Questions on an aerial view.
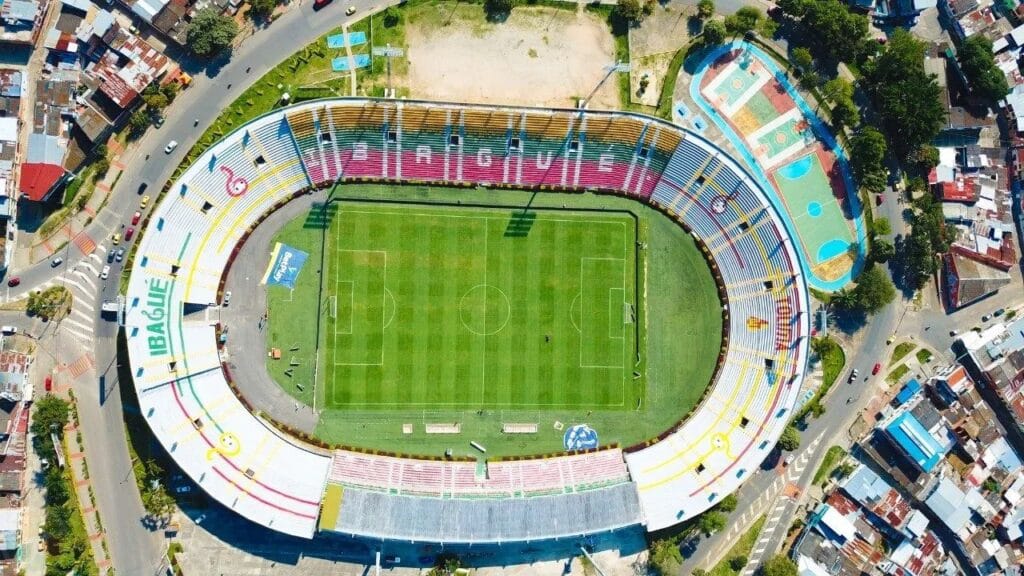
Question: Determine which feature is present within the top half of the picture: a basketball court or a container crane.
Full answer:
Looking within the top half of the picture, you will find a basketball court.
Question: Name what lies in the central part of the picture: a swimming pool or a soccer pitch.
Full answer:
Visible in the central part of the picture is a soccer pitch.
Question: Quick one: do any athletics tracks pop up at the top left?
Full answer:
No, no athletics track can be made out at the top left.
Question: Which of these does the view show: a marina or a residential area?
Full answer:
What you see here is a residential area.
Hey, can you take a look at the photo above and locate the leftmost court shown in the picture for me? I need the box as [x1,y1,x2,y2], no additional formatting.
[704,56,770,116]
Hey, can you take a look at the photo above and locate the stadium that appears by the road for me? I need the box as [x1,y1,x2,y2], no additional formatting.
[128,96,811,547]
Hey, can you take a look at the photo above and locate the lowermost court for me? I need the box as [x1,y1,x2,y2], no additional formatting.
[771,151,851,264]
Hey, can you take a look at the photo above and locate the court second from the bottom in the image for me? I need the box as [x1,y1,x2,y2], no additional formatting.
[745,107,816,173]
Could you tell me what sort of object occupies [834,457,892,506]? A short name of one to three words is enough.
house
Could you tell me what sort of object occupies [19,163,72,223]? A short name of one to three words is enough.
house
